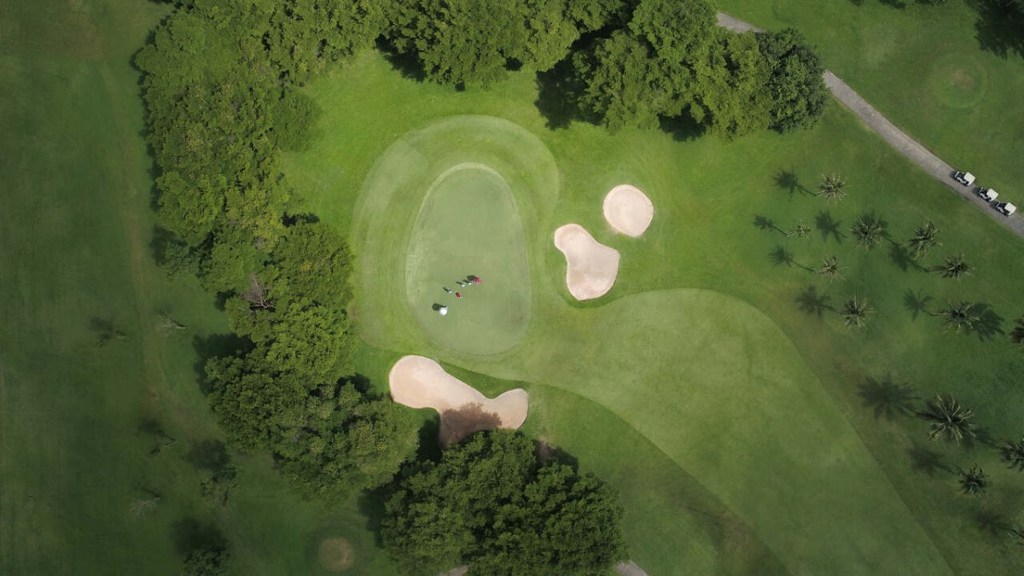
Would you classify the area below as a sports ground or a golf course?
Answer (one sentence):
This looks like a golf course.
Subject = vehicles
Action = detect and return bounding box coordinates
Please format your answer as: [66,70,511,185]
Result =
[994,200,1019,218]
[952,170,977,188]
[976,187,1001,204]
